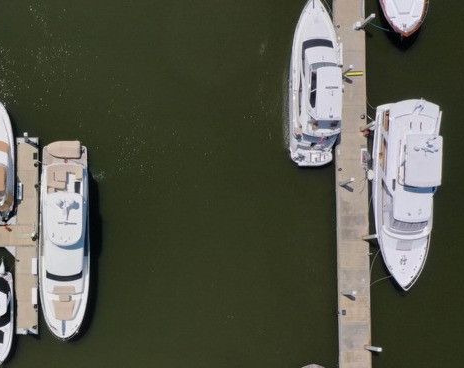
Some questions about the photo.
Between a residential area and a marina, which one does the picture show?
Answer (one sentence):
The area seen from above is a marina.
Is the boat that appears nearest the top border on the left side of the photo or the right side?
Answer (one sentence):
You can find the boat that appears nearest the top border on the right side of the picture.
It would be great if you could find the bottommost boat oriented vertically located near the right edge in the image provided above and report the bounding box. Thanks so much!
[364,99,442,291]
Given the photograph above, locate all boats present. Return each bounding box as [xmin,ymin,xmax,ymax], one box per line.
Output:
[283,0,343,167]
[36,146,90,339]
[368,0,433,40]
[0,103,17,225]
[47,142,85,158]
[364,99,442,291]
[0,257,16,363]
